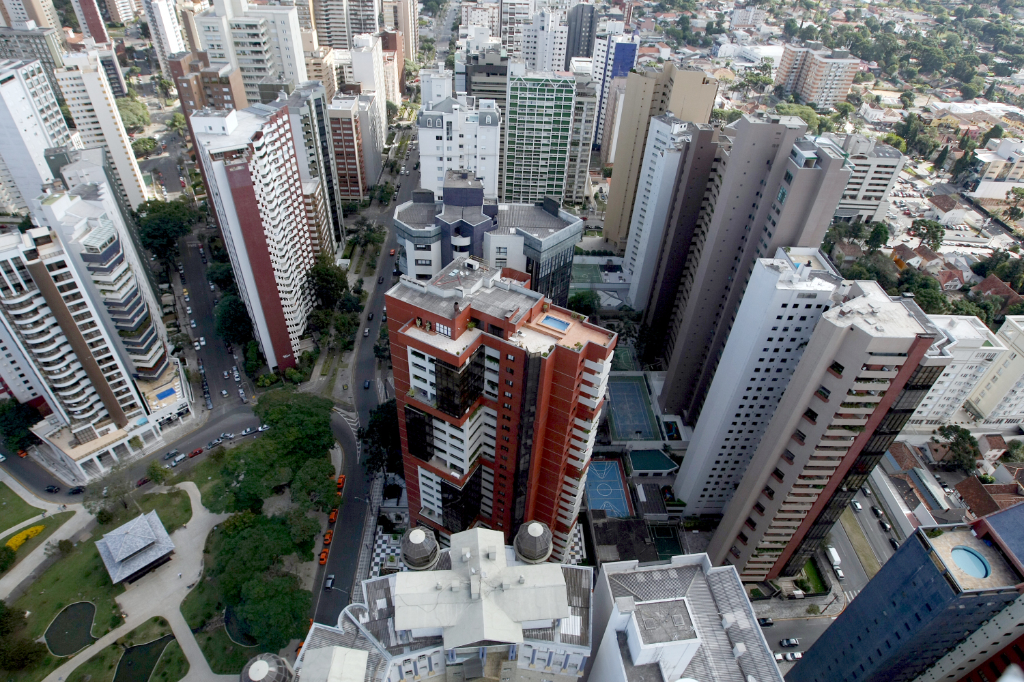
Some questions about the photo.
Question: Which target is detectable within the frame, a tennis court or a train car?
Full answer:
This aerial view contains a tennis court.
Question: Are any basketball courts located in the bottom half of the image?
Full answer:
Yes, the scene does show a basketball court in the bottom half of the image.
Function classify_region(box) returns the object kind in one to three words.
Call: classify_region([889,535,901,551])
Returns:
vehicle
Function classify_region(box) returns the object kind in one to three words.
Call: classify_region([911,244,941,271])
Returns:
house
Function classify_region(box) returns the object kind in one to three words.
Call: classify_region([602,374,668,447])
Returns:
tennis court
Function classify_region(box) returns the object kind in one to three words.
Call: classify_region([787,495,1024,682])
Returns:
building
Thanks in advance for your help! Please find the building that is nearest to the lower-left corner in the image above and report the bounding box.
[93,508,177,589]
